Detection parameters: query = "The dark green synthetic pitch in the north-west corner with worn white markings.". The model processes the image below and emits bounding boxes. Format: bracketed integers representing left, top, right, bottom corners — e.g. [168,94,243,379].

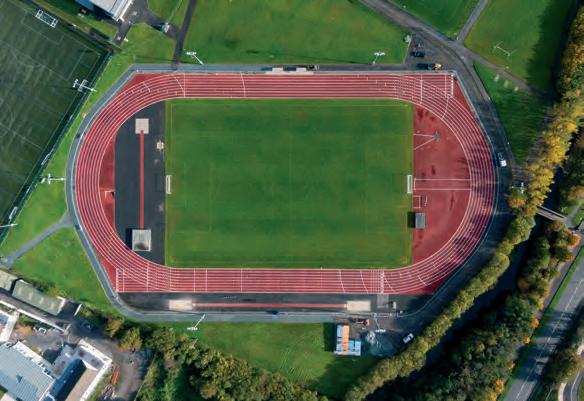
[0,0,112,245]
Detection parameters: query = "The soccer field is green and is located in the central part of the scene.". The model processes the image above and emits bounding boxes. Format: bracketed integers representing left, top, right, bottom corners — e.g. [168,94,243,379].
[166,98,413,268]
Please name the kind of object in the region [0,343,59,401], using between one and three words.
building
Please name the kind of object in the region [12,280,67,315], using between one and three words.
building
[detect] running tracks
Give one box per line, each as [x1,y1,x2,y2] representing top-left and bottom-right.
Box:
[74,74,496,293]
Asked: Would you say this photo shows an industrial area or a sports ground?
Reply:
sports ground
